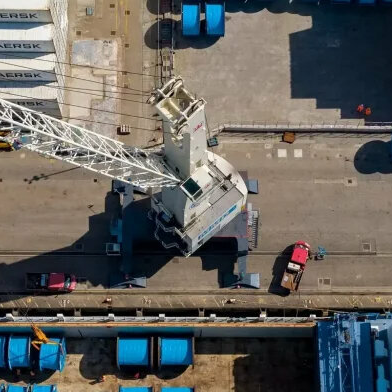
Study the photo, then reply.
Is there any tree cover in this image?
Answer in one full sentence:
No, the picture contains no tree cover.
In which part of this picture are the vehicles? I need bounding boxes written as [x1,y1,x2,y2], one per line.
[285,242,309,291]
[24,270,75,290]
